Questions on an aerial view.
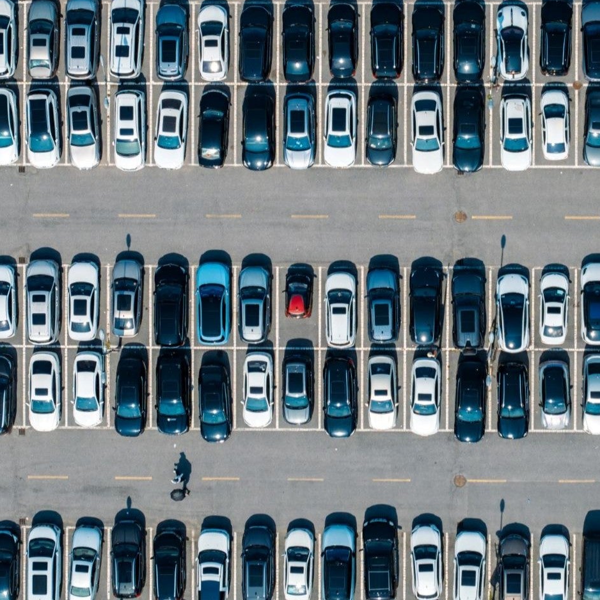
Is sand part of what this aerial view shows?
No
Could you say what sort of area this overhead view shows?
parking lot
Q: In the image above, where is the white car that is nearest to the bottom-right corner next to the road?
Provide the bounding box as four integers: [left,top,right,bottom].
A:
[536,533,574,600]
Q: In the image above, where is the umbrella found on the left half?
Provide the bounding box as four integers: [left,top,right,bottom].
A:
[173,486,188,502]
